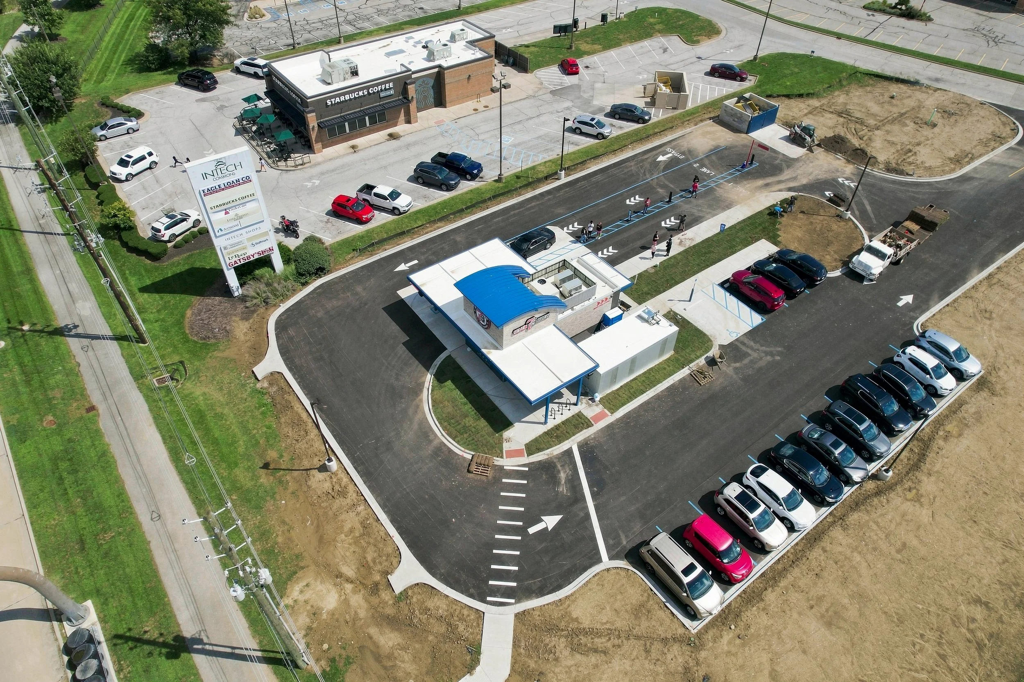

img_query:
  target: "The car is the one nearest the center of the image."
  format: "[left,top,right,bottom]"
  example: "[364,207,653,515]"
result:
[507,227,557,259]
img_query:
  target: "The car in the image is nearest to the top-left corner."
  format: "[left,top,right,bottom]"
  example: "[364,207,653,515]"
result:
[89,117,140,140]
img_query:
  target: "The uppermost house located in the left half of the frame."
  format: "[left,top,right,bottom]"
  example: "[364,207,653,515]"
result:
[264,19,494,151]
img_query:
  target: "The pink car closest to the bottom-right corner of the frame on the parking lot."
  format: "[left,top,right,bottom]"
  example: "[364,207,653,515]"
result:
[681,507,756,582]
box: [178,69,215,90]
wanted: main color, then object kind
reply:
black car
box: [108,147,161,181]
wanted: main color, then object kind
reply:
white car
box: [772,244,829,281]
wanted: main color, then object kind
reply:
black car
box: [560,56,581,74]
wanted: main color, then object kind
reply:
red car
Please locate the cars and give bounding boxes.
[507,227,557,259]
[636,524,726,619]
[708,62,749,81]
[560,56,581,74]
[752,255,811,295]
[765,434,847,504]
[108,147,161,181]
[708,474,789,551]
[178,69,215,90]
[791,416,871,482]
[817,394,895,459]
[837,371,916,435]
[912,324,983,378]
[609,102,653,123]
[887,340,958,394]
[728,269,788,311]
[234,57,270,76]
[864,357,939,416]
[772,244,829,281]
[739,455,820,528]
[571,113,613,139]
[412,160,460,190]
[329,192,376,223]
[144,208,202,242]
[681,507,756,582]
[89,117,140,140]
